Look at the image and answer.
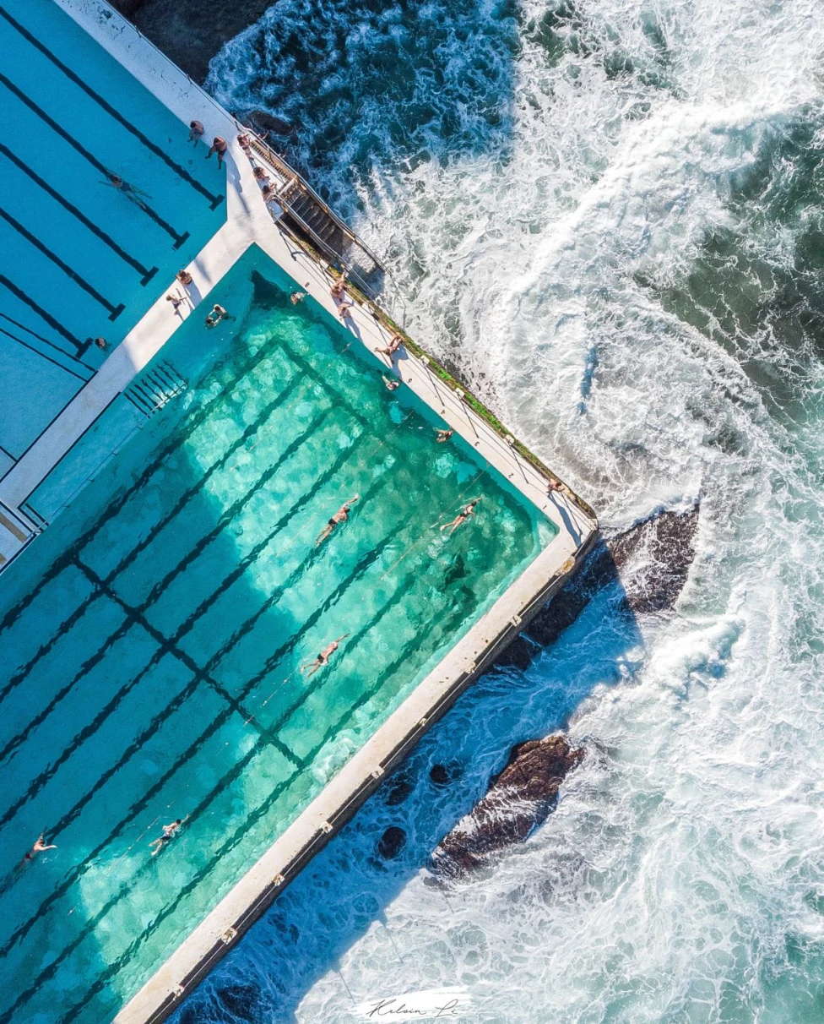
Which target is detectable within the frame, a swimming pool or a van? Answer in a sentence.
I can see a swimming pool in this picture.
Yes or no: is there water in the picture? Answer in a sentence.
Yes, the picture does contain water.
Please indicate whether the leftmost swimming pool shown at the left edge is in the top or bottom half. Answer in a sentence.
The top half of the photo is where the leftmost swimming pool shown at the left edge is.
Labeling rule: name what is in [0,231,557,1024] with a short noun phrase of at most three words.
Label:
swimming pool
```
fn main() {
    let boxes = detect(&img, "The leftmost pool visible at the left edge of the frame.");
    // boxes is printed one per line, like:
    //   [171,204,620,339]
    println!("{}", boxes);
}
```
[0,0,228,484]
